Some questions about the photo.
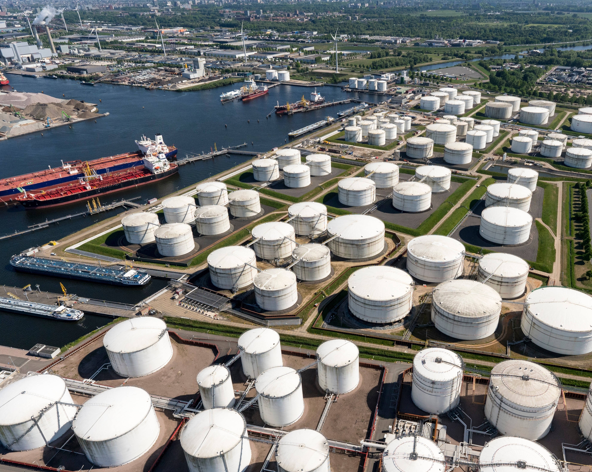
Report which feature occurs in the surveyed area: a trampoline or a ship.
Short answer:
ship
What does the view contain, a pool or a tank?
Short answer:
tank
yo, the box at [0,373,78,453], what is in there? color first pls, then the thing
white storage tank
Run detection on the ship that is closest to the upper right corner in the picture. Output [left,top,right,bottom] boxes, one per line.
[337,103,369,116]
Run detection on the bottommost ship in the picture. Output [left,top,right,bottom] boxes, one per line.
[0,299,87,322]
